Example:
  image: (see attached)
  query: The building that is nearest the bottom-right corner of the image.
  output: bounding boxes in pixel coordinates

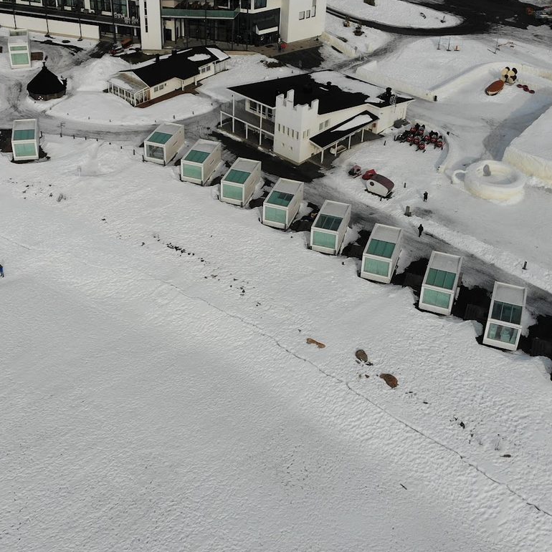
[481,282,526,355]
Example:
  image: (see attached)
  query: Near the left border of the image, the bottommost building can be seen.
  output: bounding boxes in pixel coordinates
[13,119,40,162]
